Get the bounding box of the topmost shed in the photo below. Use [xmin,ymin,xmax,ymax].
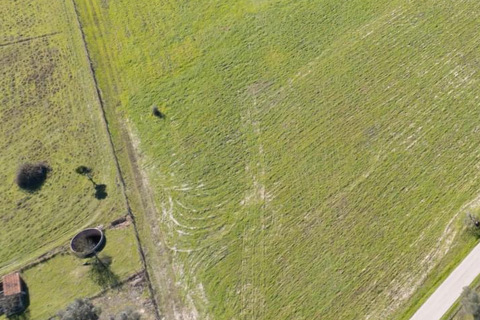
[3,267,33,305]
